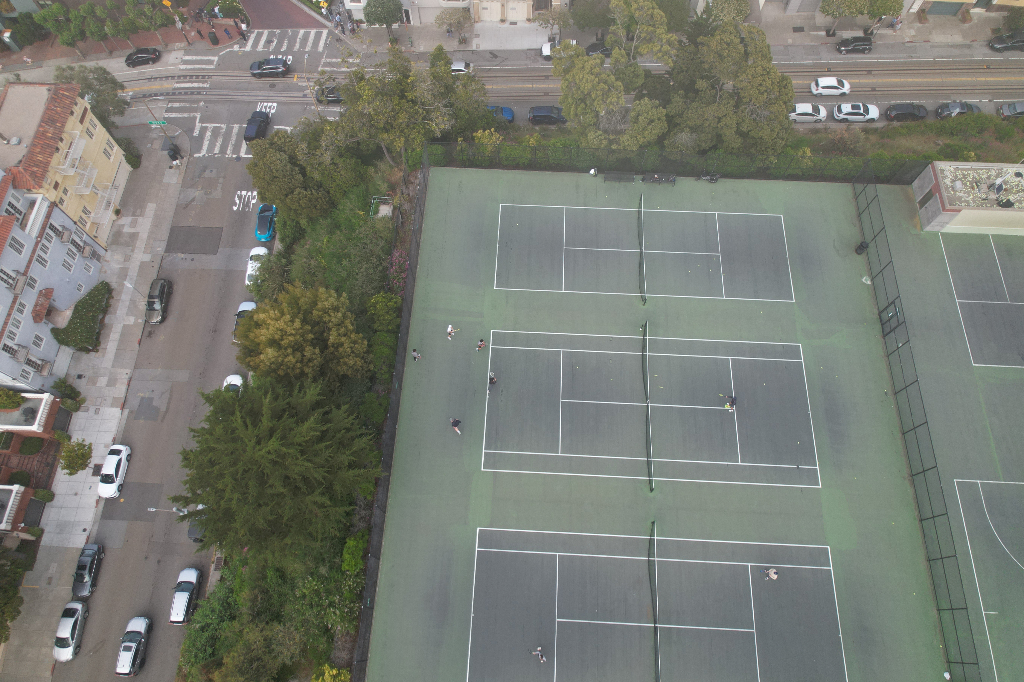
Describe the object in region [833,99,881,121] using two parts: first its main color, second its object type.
white car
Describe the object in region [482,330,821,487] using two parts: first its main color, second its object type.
gray tennis court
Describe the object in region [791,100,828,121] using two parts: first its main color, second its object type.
white car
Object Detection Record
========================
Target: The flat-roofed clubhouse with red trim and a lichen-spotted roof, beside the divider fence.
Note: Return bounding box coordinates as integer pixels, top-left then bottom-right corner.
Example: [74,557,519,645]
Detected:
[911,161,1024,236]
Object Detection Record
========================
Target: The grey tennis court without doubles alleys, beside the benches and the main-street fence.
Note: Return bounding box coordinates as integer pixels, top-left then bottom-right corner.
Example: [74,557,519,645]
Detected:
[494,203,795,302]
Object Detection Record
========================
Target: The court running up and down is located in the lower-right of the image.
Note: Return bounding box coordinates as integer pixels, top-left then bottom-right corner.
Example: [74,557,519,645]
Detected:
[955,476,1024,682]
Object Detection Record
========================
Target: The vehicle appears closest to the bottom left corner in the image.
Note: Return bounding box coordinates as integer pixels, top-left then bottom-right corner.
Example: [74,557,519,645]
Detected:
[52,603,89,663]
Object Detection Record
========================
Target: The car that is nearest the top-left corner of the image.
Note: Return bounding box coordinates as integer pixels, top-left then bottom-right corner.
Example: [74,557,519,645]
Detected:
[120,45,163,67]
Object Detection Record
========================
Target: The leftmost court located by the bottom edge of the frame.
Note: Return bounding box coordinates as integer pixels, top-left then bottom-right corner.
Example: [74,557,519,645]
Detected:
[467,528,848,682]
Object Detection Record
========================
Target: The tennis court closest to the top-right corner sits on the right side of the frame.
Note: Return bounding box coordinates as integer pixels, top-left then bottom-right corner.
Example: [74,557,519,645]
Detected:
[940,233,1024,369]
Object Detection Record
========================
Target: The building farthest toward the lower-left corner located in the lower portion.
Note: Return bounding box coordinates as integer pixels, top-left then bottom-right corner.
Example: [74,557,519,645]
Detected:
[0,486,32,535]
